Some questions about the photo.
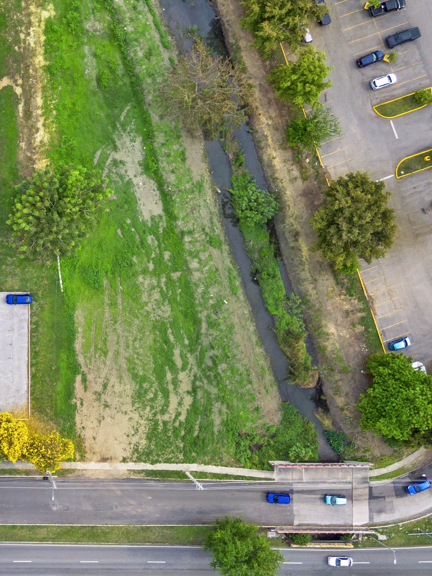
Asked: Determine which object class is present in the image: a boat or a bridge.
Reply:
bridge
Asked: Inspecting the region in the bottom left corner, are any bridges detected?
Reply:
No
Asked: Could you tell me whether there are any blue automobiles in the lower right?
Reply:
Yes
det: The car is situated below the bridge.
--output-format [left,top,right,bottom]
[326,555,352,568]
